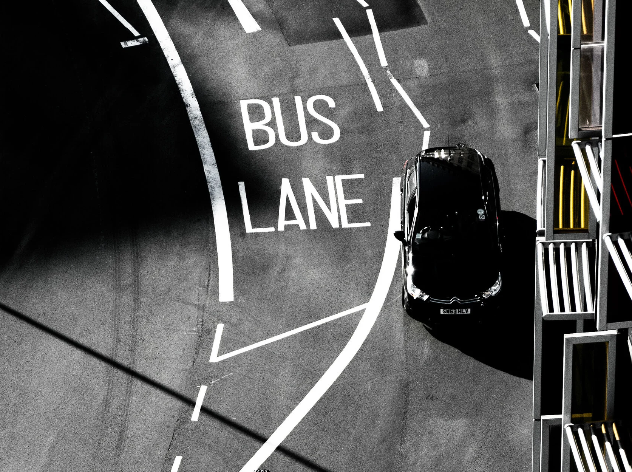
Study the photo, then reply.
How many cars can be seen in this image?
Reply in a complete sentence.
The count comes to 1 car.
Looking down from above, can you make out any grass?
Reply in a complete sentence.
No, the picture contains no grass.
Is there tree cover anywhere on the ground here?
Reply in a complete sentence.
No, tree cover can't be seen anywhere here.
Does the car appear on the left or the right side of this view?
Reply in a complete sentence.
The car appears in the right half of the scene.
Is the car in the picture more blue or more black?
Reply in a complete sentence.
The car is black.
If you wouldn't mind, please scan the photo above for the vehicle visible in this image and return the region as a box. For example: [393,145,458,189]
[390,128,516,325]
